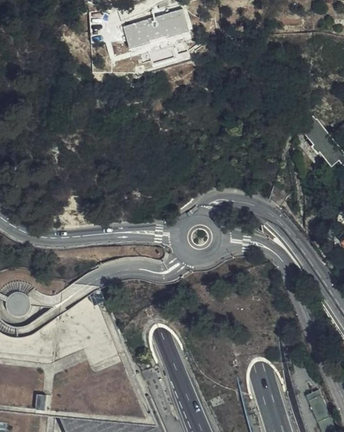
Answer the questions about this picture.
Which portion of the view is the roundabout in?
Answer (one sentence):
Look in the center portion of the view to spot the roundabout.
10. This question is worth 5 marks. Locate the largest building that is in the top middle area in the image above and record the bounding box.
[123,9,194,74]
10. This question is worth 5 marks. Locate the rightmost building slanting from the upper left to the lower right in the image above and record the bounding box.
[304,117,344,168]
